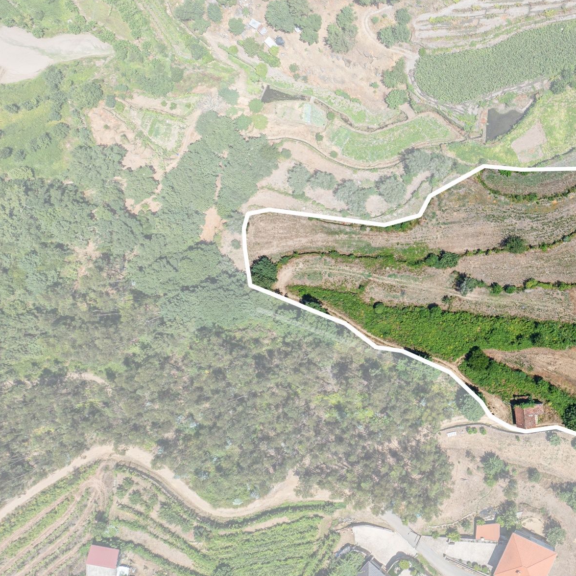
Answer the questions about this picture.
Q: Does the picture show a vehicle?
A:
No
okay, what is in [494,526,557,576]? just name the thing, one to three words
house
